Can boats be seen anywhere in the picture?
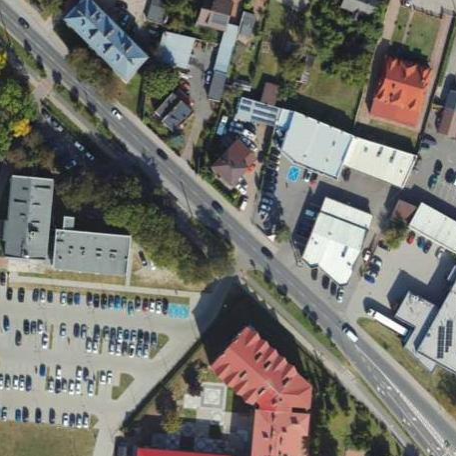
No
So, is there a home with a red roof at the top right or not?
Yes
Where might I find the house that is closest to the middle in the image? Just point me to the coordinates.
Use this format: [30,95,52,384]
[213,139,255,188]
